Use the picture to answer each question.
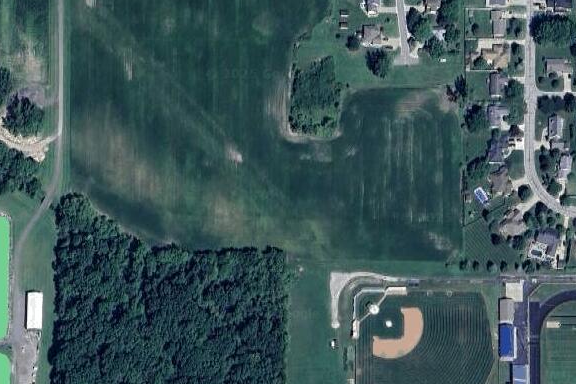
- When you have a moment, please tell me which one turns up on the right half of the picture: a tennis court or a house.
house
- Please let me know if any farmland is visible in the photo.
Yes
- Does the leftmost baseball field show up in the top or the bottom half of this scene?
bottom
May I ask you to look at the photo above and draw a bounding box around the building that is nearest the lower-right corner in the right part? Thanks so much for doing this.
[499,322,514,357]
